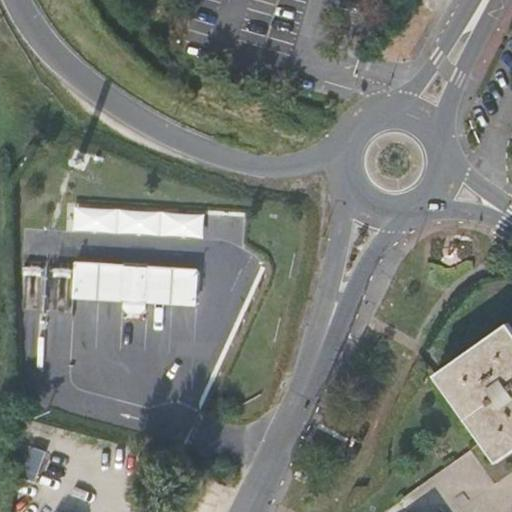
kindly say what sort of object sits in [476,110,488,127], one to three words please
vehicle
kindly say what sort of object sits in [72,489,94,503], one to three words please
vehicle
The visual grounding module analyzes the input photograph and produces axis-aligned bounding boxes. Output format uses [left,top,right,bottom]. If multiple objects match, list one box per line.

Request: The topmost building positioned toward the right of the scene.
[430,324,512,464]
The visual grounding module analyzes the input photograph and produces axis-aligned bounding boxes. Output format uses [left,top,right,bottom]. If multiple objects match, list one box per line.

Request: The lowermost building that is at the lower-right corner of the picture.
[384,446,512,512]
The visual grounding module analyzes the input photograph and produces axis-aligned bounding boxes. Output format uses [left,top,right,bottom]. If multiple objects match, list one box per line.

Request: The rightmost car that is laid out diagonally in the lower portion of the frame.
[167,362,180,379]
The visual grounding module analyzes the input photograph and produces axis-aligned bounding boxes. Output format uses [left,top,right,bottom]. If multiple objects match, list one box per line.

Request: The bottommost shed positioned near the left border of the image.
[26,447,50,480]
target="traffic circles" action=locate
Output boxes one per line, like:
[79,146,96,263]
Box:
[312,82,478,229]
